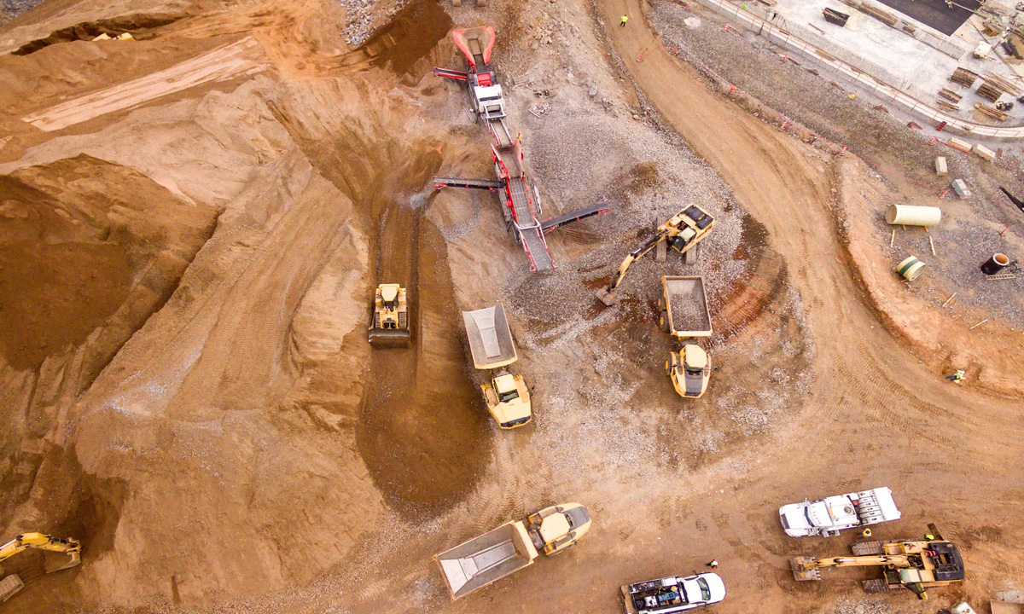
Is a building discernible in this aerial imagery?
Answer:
No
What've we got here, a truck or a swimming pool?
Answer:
truck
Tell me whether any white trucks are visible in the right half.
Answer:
Yes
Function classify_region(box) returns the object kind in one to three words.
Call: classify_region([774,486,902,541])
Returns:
truck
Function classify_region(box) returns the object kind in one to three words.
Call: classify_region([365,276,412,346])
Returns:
work vehicle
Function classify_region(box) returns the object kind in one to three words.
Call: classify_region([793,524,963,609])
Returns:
work vehicle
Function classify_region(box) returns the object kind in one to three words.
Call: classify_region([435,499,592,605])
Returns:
truck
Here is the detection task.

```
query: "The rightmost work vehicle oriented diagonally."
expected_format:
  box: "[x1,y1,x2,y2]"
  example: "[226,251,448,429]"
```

[601,200,716,303]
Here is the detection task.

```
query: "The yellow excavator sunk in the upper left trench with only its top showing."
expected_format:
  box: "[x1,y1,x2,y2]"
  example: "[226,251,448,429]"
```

[109,29,156,46]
